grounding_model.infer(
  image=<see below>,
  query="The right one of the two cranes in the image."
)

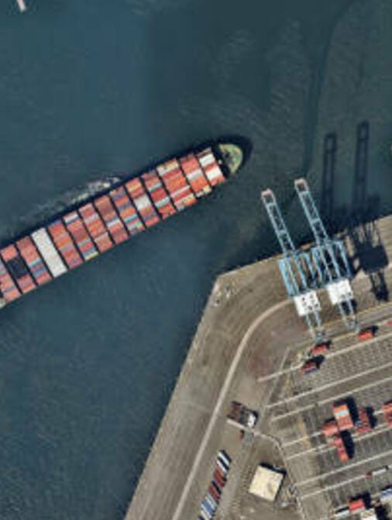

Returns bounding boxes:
[294,179,357,329]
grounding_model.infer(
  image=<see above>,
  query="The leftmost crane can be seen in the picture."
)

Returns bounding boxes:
[262,191,325,341]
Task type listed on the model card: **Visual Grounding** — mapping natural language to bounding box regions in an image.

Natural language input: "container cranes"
[294,179,357,329]
[262,191,325,341]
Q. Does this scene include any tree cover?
No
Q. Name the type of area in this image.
port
